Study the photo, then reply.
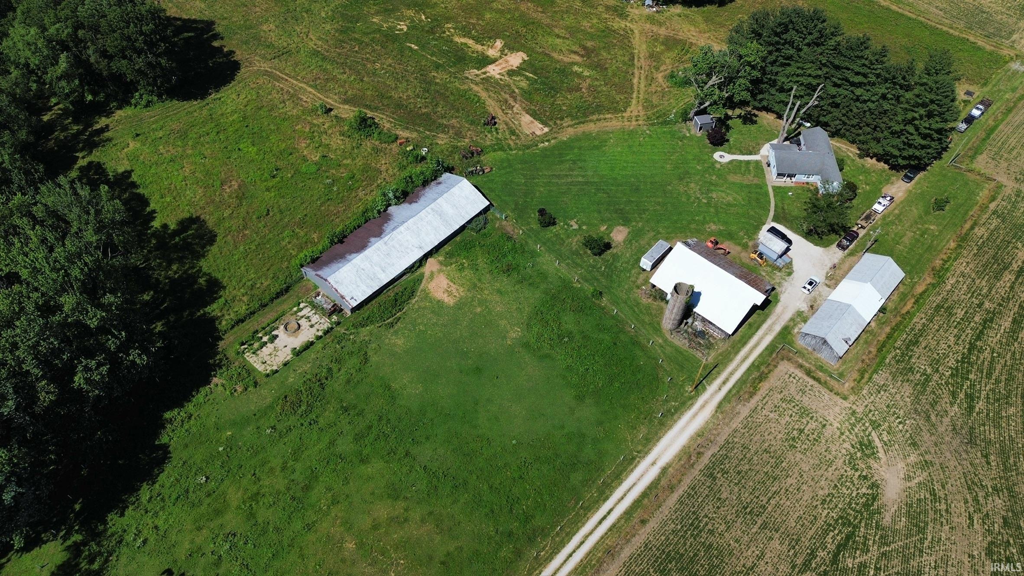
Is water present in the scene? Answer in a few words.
No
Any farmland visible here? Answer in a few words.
Yes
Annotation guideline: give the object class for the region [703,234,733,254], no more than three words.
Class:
work vehicle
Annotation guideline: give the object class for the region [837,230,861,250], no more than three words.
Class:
vehicle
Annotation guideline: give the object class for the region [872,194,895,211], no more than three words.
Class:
vehicle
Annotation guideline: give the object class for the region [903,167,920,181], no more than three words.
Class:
car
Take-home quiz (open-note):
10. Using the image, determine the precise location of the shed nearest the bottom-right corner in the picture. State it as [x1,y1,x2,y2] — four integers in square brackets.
[799,253,905,363]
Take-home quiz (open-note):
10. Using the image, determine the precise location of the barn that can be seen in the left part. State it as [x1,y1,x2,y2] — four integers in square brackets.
[304,173,491,314]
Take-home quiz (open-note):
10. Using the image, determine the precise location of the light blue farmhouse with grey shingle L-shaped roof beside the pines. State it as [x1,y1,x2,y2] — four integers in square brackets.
[768,124,844,192]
